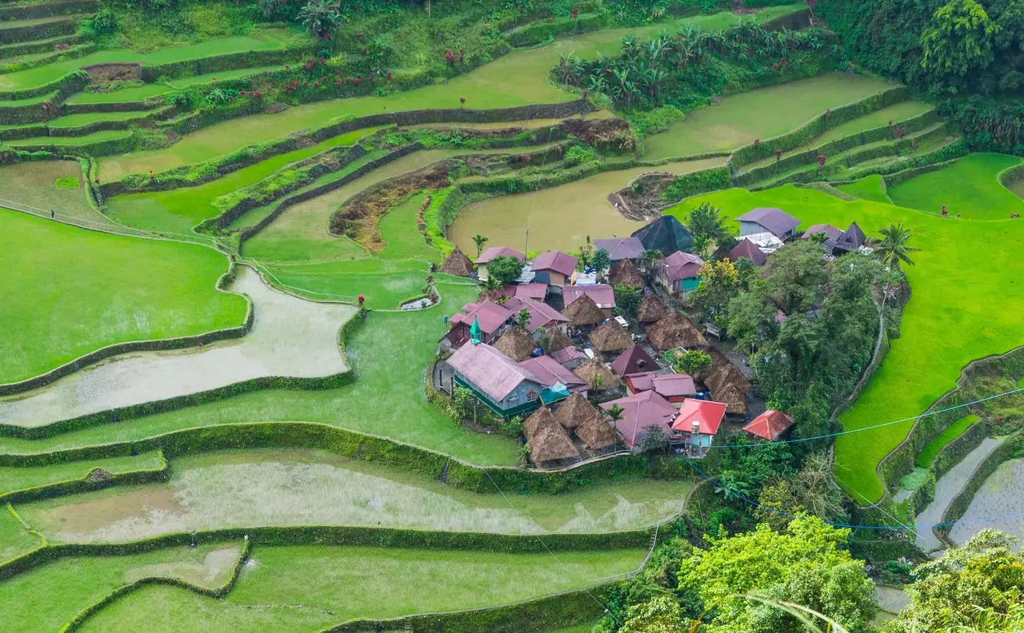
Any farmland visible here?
Yes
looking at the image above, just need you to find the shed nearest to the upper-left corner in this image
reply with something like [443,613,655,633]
[435,244,477,280]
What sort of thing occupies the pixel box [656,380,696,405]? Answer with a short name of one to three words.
house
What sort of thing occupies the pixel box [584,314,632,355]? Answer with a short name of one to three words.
shed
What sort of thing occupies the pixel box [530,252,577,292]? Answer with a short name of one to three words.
house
